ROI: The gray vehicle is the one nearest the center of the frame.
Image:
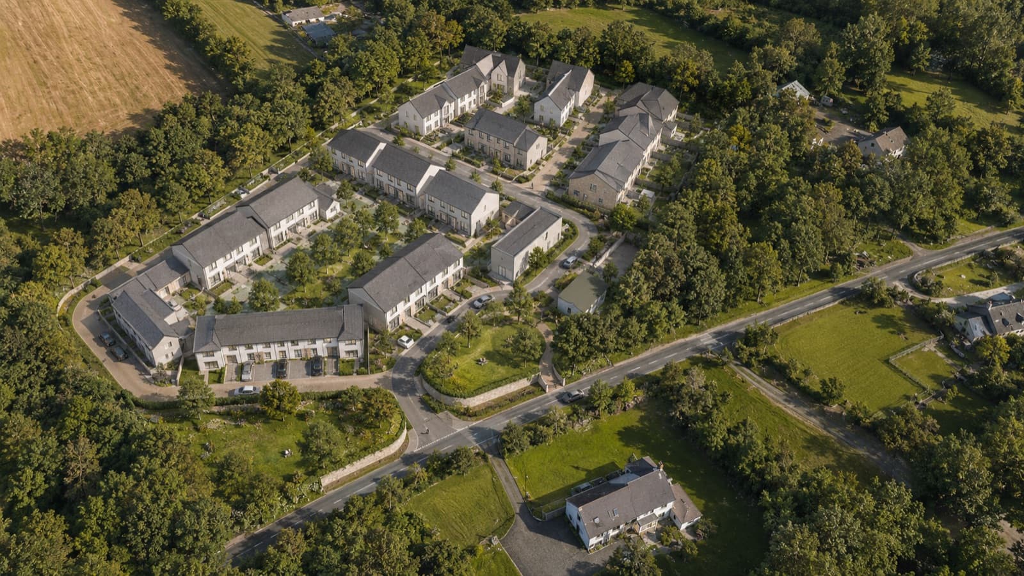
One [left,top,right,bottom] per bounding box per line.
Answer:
[472,291,494,308]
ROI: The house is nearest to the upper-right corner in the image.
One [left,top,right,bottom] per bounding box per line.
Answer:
[860,121,911,169]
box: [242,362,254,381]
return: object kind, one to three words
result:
vehicle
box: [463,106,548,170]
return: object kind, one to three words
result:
house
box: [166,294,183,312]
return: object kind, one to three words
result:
car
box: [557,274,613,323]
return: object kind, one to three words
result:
shed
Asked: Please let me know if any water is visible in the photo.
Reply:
No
